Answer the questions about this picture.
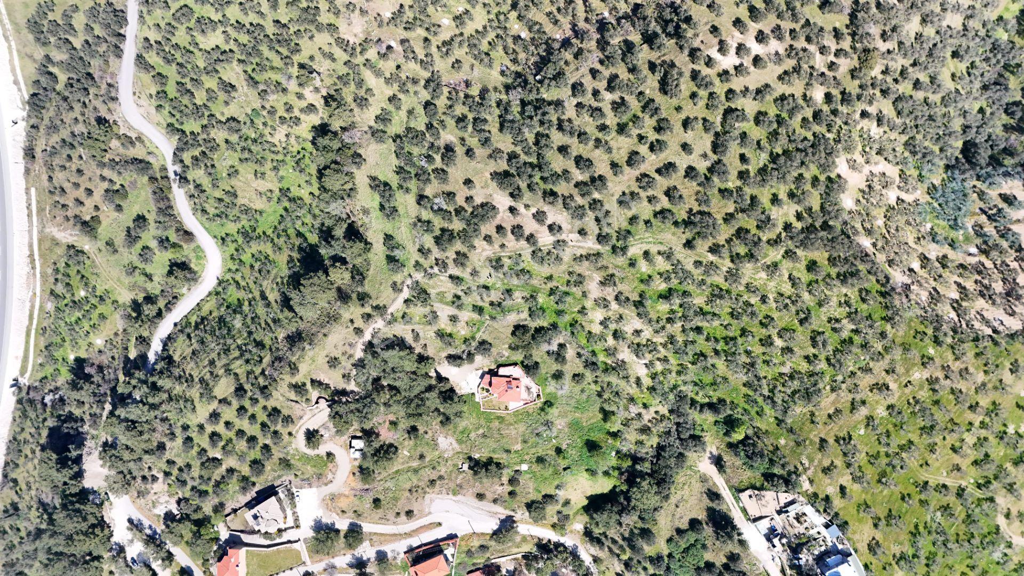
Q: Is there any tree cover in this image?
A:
Yes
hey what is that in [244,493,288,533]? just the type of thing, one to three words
house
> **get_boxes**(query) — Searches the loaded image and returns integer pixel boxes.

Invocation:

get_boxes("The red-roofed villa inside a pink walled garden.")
[481,374,521,402]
